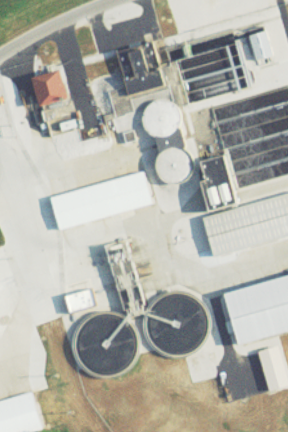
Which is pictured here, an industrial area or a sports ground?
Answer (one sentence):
The picture captures an industrial area.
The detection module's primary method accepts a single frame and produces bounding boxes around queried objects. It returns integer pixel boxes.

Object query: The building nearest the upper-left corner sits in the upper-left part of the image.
[32,71,68,106]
